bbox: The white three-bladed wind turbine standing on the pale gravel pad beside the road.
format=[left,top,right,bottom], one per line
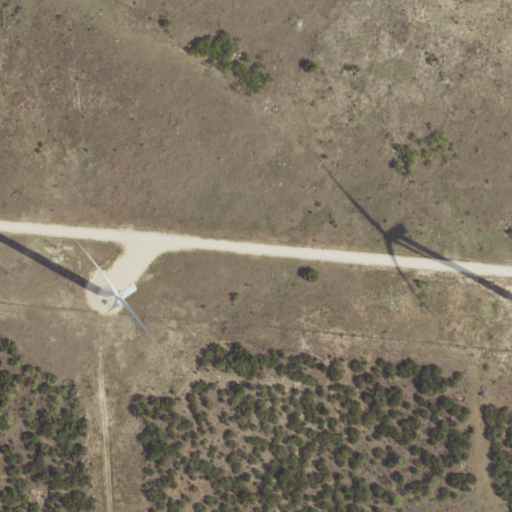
[66,227,166,359]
